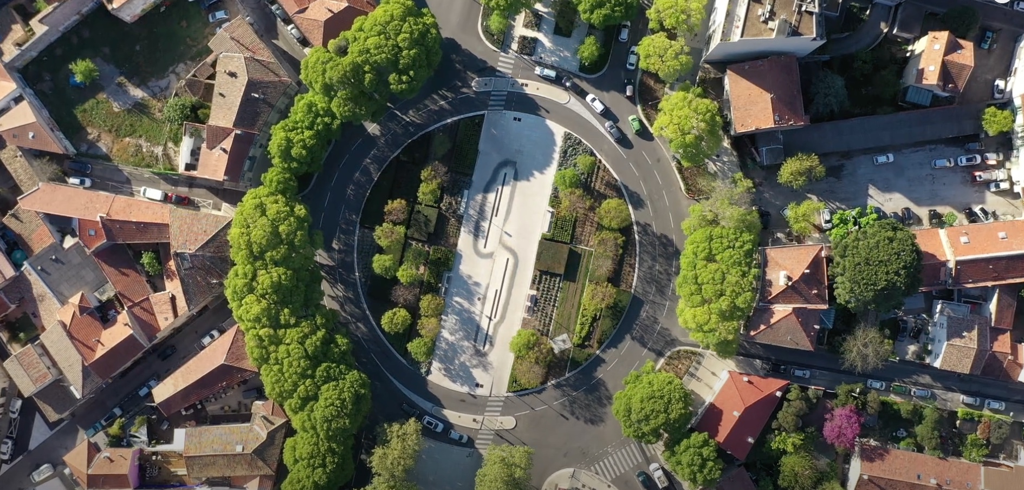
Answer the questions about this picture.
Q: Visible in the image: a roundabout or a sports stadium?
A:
roundabout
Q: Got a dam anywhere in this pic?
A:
No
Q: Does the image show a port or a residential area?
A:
residential area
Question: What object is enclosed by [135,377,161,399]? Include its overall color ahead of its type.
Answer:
blue truck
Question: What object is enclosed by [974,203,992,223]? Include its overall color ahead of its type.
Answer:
white car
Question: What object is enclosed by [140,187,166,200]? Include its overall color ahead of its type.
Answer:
white vehicle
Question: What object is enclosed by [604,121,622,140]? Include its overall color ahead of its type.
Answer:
gray car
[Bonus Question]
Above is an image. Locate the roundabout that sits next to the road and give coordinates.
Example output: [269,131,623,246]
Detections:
[310,45,697,481]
